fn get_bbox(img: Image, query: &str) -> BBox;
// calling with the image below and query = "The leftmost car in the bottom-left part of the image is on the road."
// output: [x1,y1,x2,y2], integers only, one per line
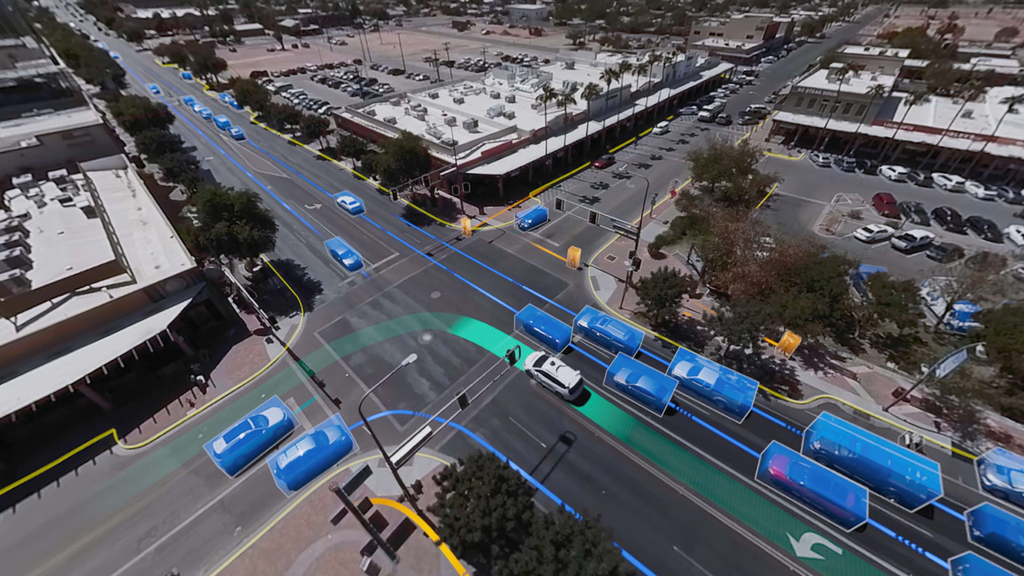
[215,408,295,470]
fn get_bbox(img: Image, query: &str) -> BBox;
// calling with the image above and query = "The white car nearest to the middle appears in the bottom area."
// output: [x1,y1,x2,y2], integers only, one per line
[525,349,588,398]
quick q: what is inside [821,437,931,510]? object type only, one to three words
vehicle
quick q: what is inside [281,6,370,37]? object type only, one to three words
building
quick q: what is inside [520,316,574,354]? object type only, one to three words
car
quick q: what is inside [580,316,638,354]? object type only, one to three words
car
